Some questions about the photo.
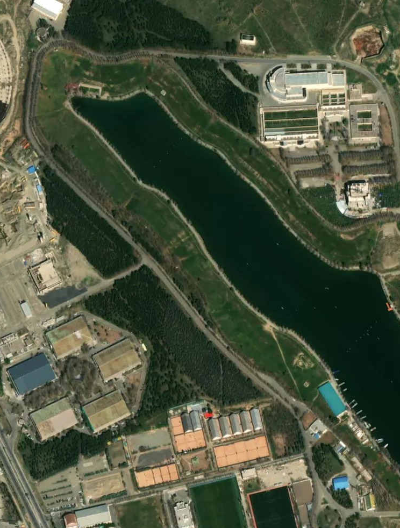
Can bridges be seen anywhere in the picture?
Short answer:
No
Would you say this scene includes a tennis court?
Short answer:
Yes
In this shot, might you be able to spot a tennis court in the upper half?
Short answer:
No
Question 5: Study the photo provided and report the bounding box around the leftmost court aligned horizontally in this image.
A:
[135,463,180,488]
